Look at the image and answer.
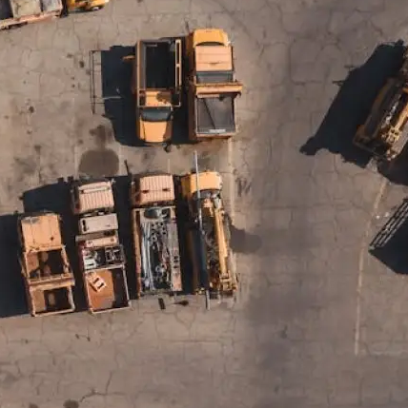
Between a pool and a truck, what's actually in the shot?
truck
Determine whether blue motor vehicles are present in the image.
No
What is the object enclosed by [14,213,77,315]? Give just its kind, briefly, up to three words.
truck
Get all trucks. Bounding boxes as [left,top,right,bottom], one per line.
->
[14,213,77,315]
[179,172,244,298]
[351,33,408,163]
[128,39,184,145]
[68,179,130,312]
[127,175,181,295]
[185,29,241,139]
